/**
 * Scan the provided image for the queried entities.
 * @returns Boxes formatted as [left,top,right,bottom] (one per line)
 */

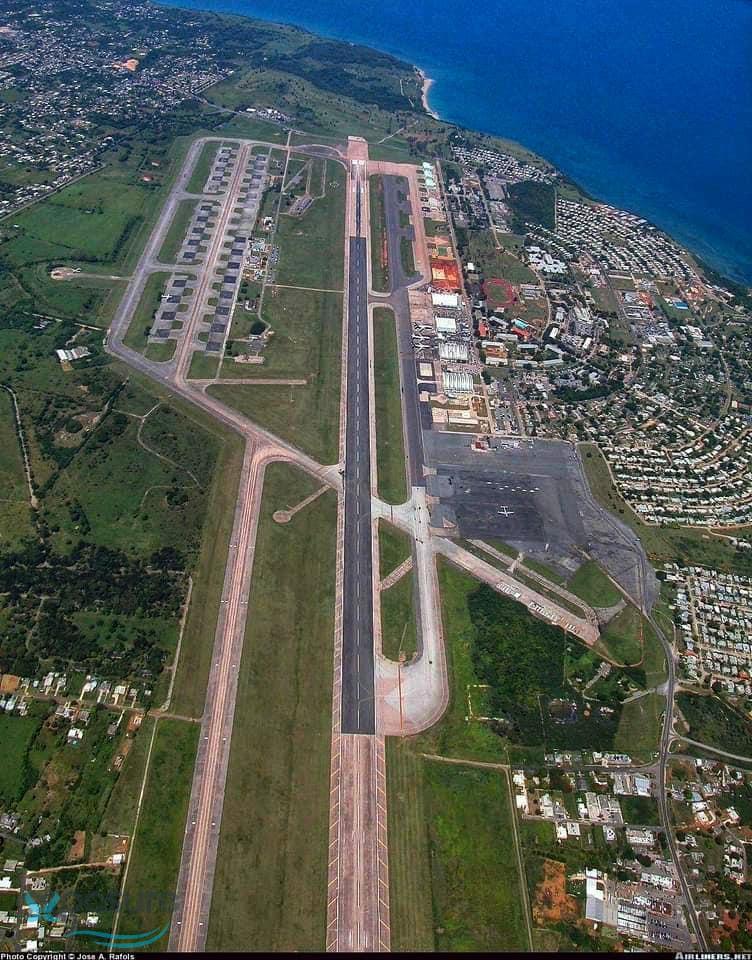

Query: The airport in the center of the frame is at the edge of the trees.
[51,136,661,960]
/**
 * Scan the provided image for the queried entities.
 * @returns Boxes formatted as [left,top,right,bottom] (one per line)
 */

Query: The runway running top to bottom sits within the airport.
[327,160,391,960]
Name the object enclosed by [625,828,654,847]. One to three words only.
building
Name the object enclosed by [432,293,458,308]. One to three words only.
hangar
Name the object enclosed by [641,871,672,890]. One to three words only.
building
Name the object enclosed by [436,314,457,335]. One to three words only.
hangar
